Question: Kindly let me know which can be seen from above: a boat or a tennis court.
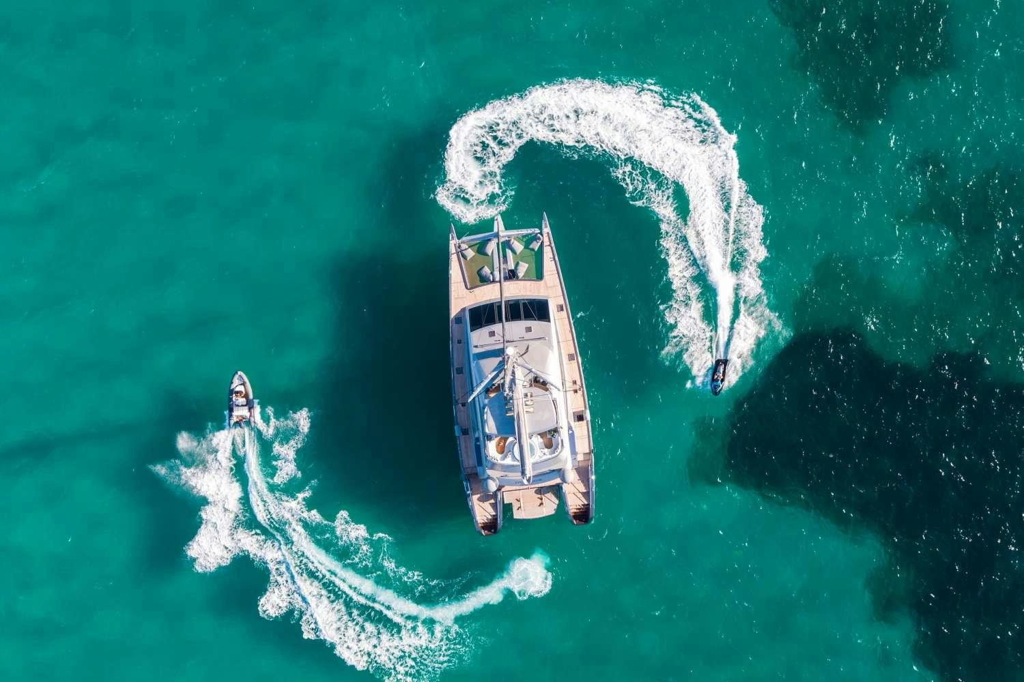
boat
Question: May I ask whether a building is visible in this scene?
No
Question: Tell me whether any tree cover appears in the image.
No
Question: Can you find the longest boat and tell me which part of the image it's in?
center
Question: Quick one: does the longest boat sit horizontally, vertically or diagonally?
vertically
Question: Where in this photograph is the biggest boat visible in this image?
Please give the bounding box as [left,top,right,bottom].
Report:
[451,212,593,534]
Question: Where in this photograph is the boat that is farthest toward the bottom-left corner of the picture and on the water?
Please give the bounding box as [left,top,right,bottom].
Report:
[225,368,253,431]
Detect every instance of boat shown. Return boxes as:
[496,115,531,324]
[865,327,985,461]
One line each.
[451,212,593,534]
[225,368,253,431]
[712,356,731,396]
